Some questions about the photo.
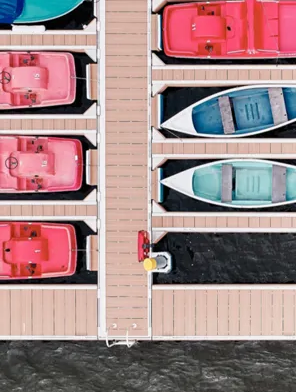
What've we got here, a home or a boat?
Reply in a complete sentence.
Of the two, only a boat appears.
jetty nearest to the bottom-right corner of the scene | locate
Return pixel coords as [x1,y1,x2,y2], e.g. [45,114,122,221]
[153,285,296,341]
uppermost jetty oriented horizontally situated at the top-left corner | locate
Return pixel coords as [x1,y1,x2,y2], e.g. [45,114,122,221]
[0,16,98,64]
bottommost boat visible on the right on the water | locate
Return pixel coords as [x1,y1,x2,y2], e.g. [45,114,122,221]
[160,159,296,207]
